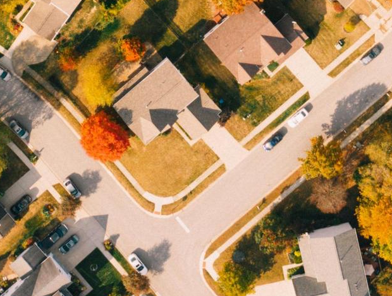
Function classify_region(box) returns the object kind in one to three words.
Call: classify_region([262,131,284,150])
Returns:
car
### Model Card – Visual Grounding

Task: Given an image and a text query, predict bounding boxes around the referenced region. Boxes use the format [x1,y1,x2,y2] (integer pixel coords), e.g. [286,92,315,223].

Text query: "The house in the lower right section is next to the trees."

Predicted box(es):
[289,224,367,296]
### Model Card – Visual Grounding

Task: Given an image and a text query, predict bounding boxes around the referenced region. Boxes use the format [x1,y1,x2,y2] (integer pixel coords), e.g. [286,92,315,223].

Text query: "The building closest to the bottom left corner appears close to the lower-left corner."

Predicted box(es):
[0,239,77,296]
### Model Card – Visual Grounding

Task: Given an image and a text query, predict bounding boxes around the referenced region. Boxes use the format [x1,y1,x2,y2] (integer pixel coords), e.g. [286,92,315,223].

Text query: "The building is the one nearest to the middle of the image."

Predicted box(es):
[113,58,225,146]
